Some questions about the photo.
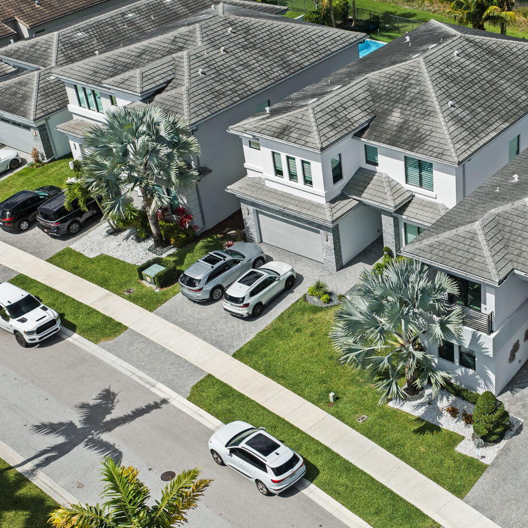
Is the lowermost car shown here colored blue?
No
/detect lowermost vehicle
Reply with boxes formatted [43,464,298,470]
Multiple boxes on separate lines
[212,427,308,499]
